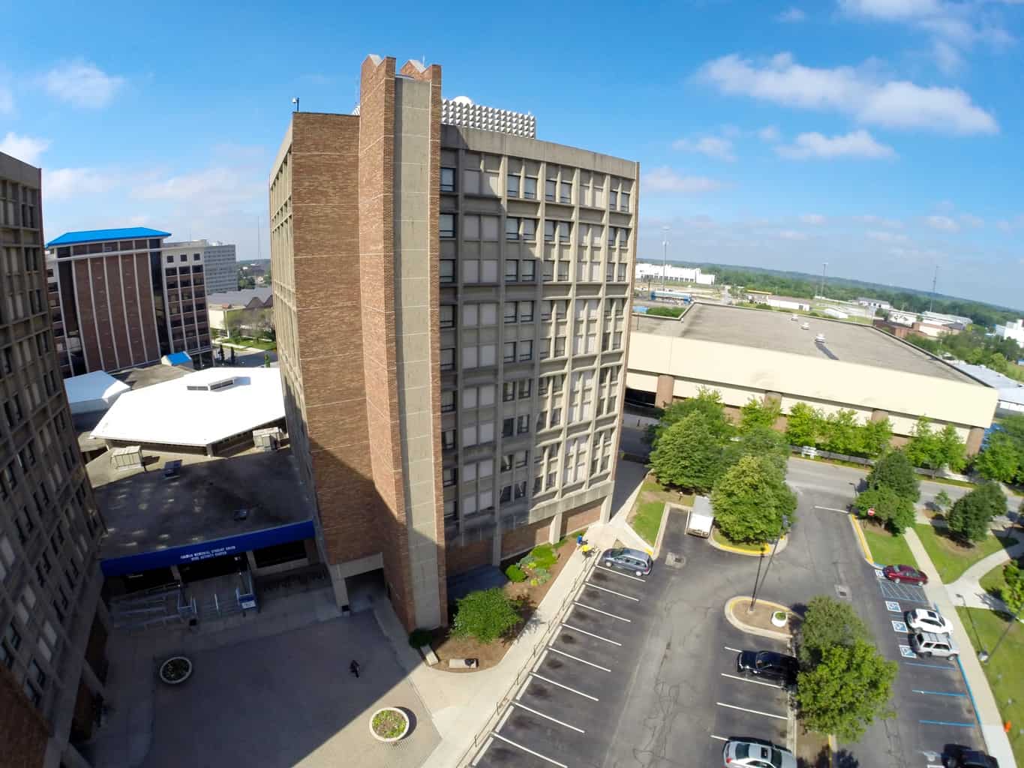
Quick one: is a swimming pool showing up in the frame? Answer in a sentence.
No, the picture doesn't show any swimming pool.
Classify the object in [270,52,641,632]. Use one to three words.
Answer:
building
